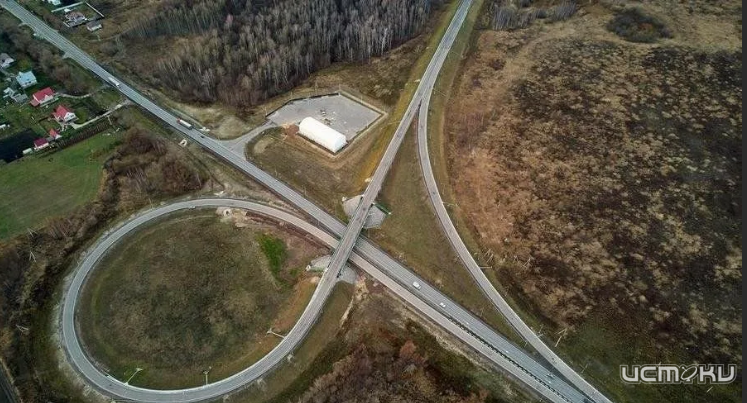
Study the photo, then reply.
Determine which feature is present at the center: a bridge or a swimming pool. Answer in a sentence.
The feature located at the center is a bridge.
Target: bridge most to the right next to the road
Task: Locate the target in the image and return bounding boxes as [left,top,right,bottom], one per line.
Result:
[309,197,396,283]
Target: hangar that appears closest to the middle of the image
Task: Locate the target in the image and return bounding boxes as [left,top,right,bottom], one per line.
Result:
[297,117,350,153]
